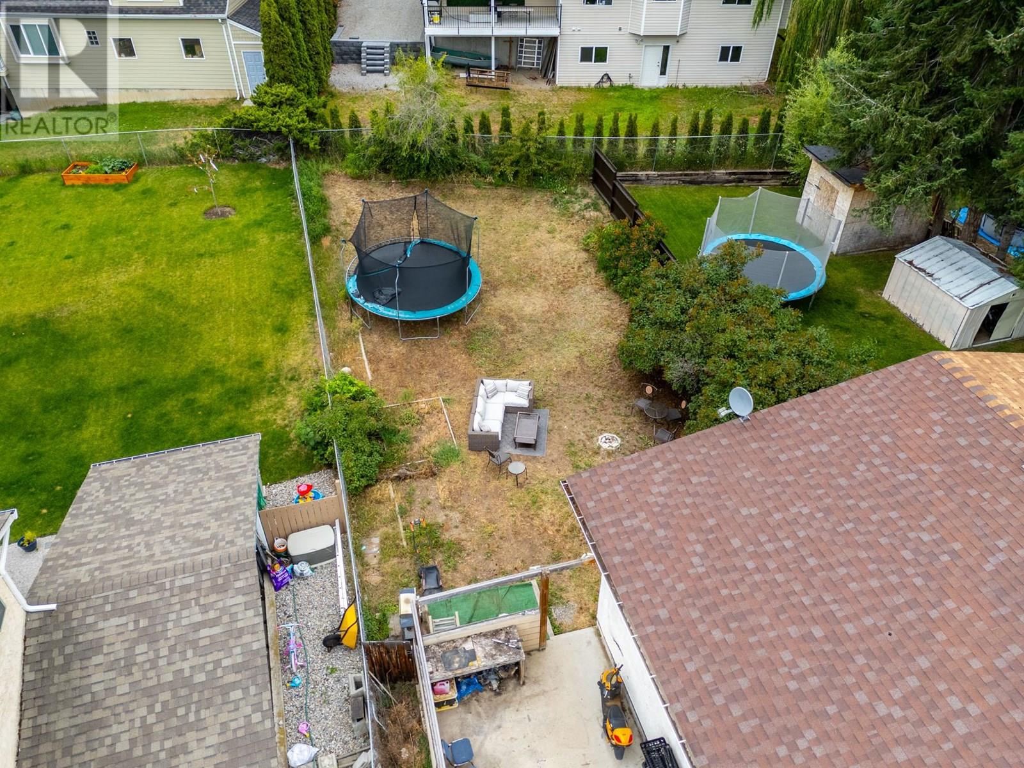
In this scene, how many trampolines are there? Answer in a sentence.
My tally gives 2 trampolines in this view.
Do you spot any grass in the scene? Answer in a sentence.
Yes, some grass is visible.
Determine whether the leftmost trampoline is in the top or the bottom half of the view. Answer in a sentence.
You can find the leftmost trampoline in the top half.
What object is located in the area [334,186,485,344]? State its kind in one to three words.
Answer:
trampoline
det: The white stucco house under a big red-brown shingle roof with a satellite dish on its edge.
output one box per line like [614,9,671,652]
[560,335,1024,768]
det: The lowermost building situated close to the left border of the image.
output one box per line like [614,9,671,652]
[0,431,284,768]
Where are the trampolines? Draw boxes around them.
[705,187,840,316]
[334,186,485,344]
